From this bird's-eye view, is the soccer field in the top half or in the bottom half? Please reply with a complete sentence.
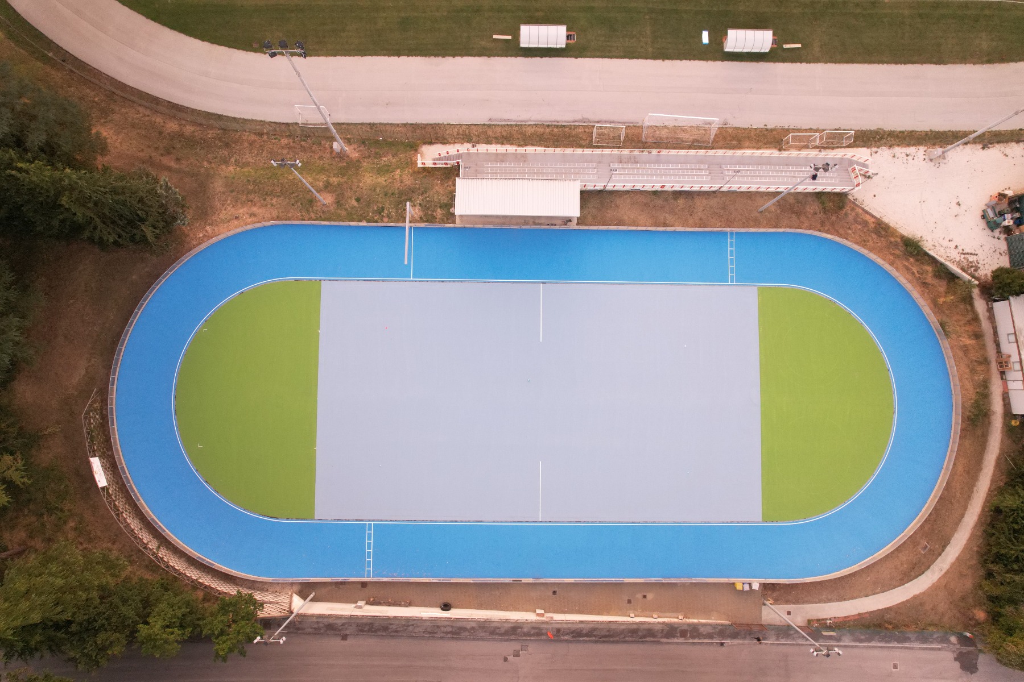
The top half of the photo is where the soccer field is.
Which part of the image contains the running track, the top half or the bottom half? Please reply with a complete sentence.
Seen from above, the running track lies in the top half of the view.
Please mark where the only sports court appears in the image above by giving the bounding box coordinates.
[175,282,894,521]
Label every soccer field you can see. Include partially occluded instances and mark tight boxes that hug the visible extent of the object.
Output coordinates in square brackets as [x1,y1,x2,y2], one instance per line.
[118,0,1024,65]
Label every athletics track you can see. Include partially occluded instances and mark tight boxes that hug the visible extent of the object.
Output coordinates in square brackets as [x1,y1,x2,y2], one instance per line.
[9,0,1024,132]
